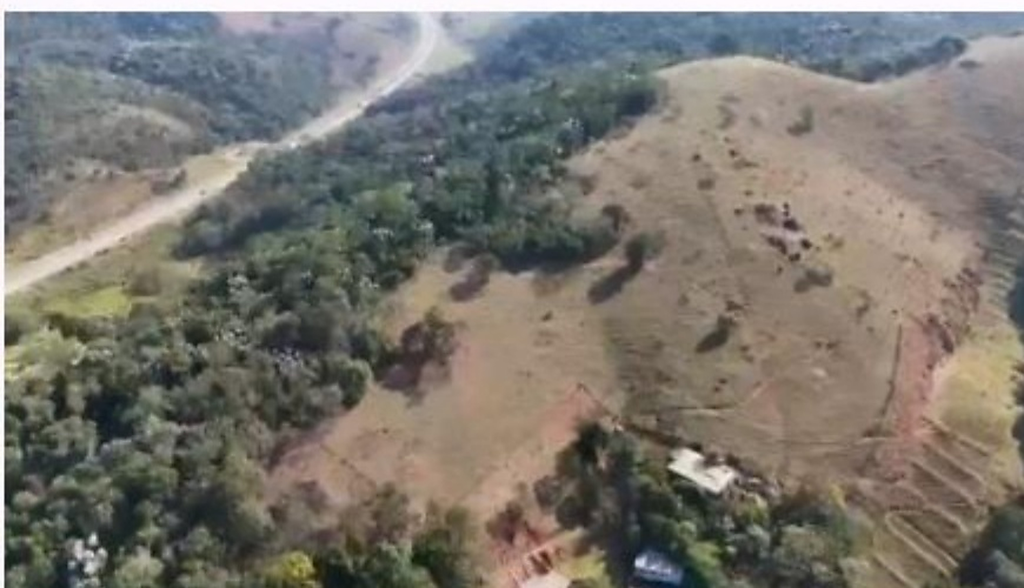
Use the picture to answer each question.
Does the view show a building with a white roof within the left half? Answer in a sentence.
No, looking within the left half, there is no building with a white roof.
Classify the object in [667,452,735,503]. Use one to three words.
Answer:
house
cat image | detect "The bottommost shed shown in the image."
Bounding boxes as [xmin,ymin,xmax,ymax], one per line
[636,548,686,588]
